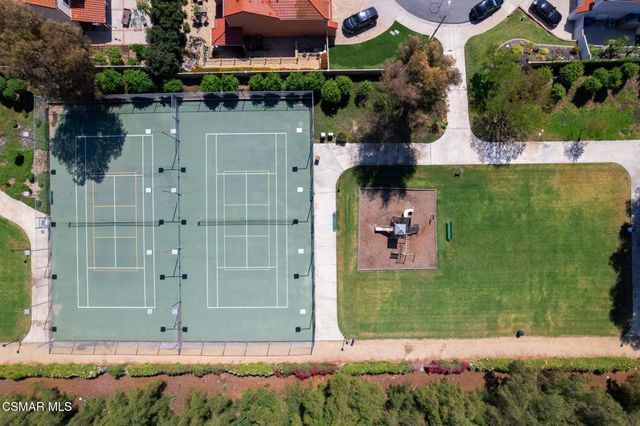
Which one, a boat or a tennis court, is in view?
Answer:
tennis court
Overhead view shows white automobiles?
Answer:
No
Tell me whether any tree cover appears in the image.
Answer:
Yes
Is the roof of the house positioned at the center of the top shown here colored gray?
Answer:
No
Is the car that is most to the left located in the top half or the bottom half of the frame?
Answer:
top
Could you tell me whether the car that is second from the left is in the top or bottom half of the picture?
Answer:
top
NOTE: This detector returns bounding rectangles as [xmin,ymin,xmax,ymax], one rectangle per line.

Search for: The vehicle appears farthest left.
[342,7,379,34]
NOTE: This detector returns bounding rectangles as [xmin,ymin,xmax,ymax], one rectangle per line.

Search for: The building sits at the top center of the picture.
[211,0,338,52]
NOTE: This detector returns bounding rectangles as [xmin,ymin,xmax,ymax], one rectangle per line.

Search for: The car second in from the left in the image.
[468,0,506,24]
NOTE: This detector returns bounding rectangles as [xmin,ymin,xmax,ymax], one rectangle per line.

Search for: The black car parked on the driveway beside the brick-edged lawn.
[528,0,563,28]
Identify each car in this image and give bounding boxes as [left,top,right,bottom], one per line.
[468,0,506,24]
[528,0,563,28]
[342,7,379,34]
